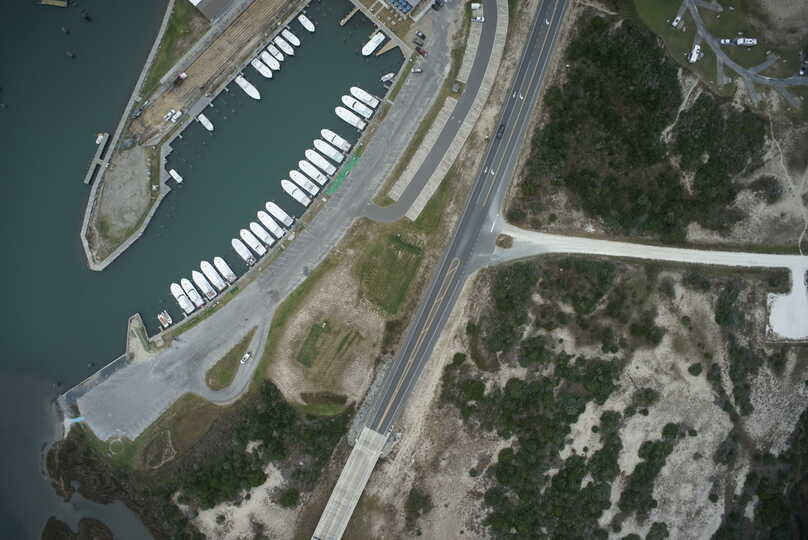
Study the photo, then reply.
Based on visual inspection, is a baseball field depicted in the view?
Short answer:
No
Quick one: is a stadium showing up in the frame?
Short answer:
No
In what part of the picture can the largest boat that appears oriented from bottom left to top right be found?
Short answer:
top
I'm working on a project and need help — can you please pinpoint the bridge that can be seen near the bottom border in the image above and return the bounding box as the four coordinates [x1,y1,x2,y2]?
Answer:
[311,421,390,540]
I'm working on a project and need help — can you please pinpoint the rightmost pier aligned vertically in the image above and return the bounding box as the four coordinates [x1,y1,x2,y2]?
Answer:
[160,129,184,201]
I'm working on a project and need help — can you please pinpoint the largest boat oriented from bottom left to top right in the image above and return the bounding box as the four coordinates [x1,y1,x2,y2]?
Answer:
[363,32,386,54]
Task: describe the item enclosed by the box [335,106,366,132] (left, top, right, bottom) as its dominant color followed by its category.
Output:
white boat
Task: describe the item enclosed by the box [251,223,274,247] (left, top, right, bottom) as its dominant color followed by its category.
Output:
white boat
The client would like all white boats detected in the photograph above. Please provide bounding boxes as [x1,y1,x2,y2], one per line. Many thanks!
[202,261,226,291]
[259,212,283,239]
[197,114,214,131]
[299,159,327,187]
[297,13,315,31]
[260,50,279,69]
[321,128,352,152]
[241,230,266,257]
[215,257,237,283]
[181,279,204,307]
[267,44,283,61]
[251,58,271,78]
[274,35,294,54]
[290,171,318,197]
[193,271,215,300]
[235,74,260,99]
[251,223,274,247]
[351,86,379,110]
[168,168,184,184]
[282,180,311,208]
[342,95,372,120]
[363,32,386,54]
[335,106,366,132]
[282,28,300,46]
[306,149,335,177]
[267,202,292,228]
[171,283,195,313]
[233,239,255,265]
[315,138,344,163]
